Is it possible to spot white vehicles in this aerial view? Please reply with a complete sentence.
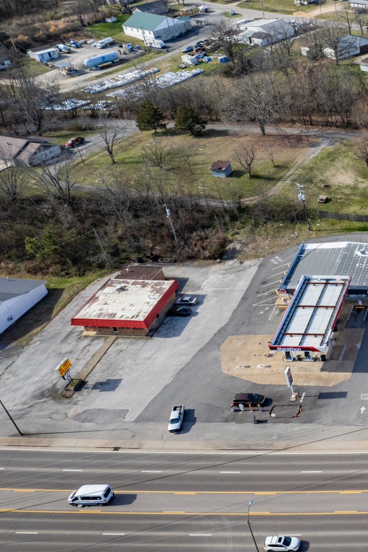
Yes, the frame does contain a white vehicle.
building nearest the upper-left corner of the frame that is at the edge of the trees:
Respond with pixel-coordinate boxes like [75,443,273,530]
[24,43,58,61]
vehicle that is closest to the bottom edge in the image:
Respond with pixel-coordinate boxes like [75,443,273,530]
[263,534,302,552]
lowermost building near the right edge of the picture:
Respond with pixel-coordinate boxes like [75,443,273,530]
[279,241,368,309]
